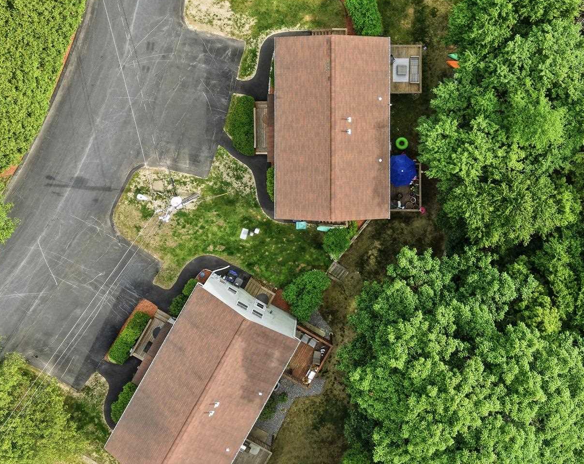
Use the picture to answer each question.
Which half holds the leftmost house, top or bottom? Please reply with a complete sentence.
It is in the bottom half that the leftmost house appears.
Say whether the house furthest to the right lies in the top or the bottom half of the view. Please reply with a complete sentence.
Seen from above, the house furthest to the right lies in the top half of the view.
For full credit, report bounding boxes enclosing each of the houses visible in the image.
[254,31,421,226]
[104,269,333,464]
